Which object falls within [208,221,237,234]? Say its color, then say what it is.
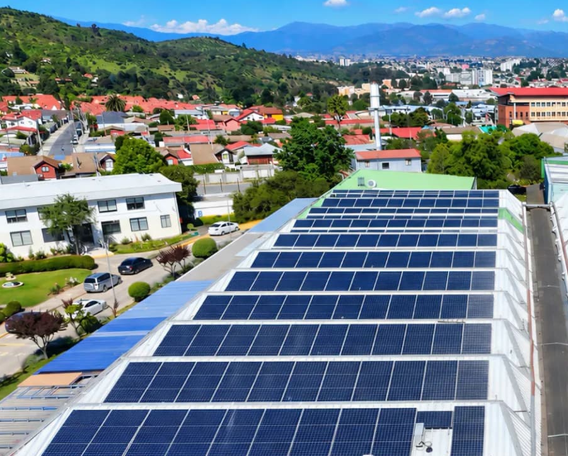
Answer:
white vehicle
